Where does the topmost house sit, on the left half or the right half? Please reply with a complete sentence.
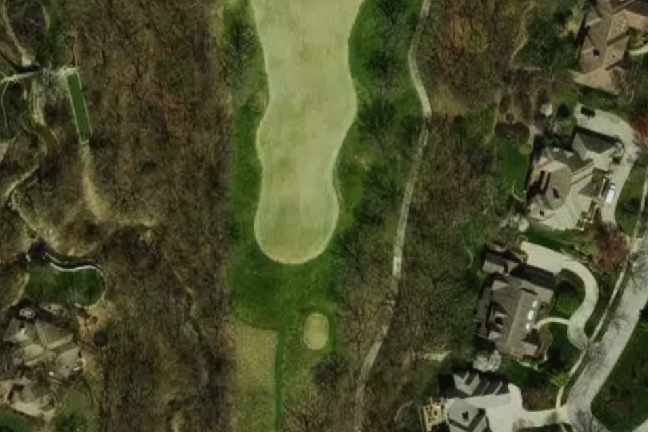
It is on the right.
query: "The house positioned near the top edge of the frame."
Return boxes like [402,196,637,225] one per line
[577,0,648,91]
